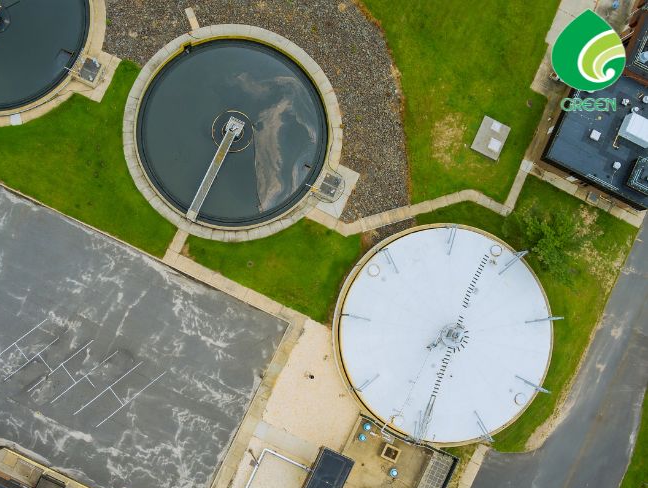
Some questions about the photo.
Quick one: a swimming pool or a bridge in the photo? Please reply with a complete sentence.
The image shows a bridge.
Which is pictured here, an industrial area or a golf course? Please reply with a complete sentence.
This looks like an industrial area.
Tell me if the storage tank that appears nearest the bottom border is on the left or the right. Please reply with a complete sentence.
The storage tank that appears nearest the bottom border appears in the right half of the scene.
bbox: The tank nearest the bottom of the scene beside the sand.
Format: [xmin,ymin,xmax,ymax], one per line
[331,224,561,445]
